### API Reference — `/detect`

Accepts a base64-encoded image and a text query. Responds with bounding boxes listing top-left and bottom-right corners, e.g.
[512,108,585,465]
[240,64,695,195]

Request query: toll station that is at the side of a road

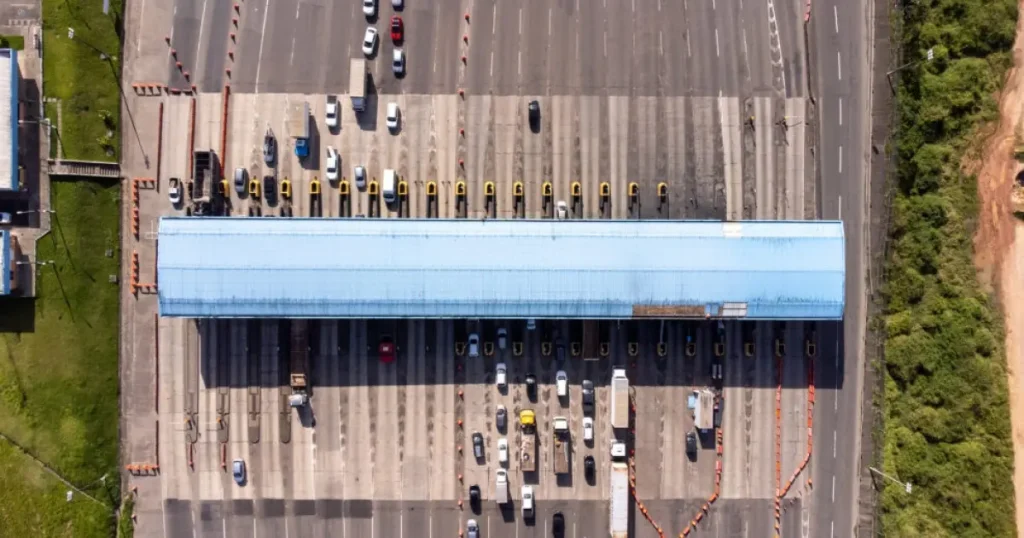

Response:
[158,95,816,499]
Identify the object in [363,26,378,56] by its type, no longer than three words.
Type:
car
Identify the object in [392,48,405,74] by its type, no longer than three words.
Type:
vehicle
